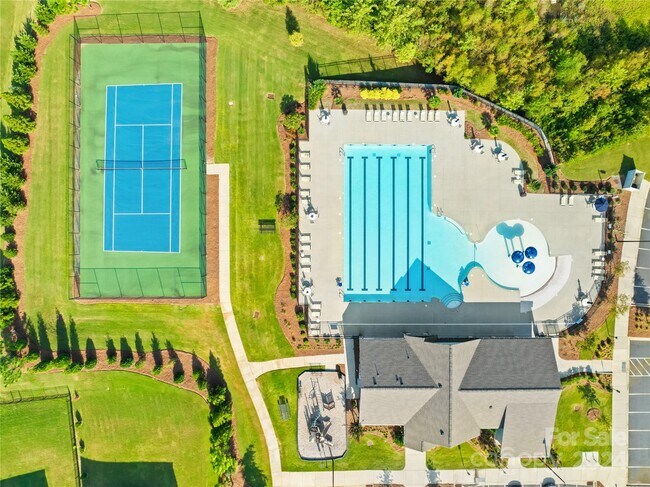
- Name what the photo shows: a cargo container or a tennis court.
tennis court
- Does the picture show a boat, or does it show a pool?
pool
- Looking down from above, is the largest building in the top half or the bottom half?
bottom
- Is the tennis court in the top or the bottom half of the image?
top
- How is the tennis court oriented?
vertically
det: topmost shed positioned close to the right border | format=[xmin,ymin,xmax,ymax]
[623,171,645,190]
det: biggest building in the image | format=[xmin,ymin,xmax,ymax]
[357,335,564,458]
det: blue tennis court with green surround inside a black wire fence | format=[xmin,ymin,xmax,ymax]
[79,42,206,298]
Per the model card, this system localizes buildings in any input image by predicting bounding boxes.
[623,171,645,190]
[357,335,564,458]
